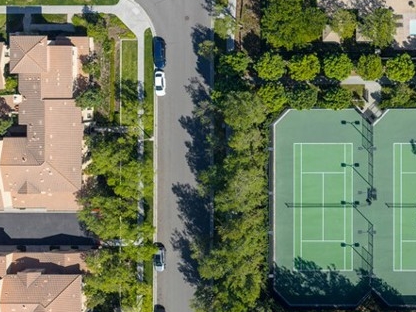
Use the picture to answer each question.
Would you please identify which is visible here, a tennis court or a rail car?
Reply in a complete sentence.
This aerial view contains a tennis court.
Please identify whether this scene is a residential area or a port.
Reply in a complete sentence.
This looks like a residential area.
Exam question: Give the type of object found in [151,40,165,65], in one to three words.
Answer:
car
